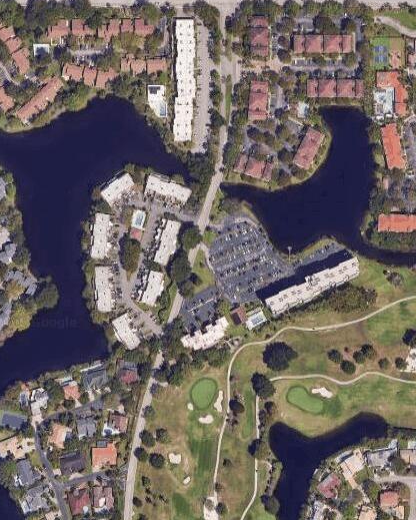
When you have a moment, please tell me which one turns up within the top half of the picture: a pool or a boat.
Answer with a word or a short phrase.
pool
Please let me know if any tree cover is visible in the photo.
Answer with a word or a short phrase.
Yes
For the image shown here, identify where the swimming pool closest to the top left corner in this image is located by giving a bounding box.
[34,44,50,58]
